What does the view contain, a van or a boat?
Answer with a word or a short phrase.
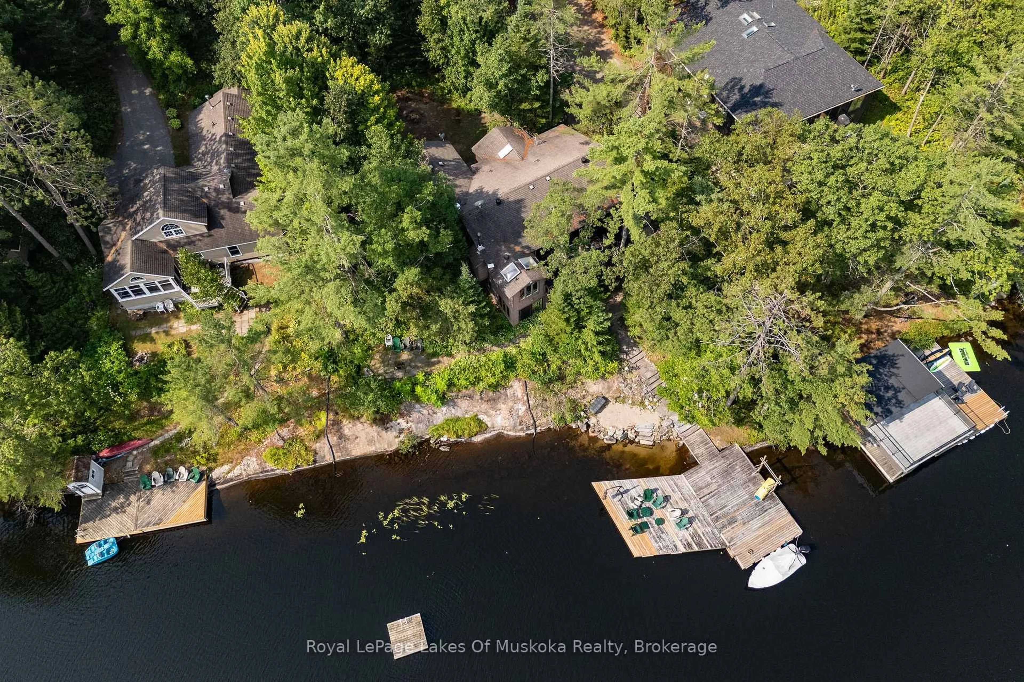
boat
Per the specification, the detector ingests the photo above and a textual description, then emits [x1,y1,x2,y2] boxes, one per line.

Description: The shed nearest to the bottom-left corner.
[66,460,105,503]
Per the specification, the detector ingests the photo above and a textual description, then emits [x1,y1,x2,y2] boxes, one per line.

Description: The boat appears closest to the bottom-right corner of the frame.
[749,539,809,587]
